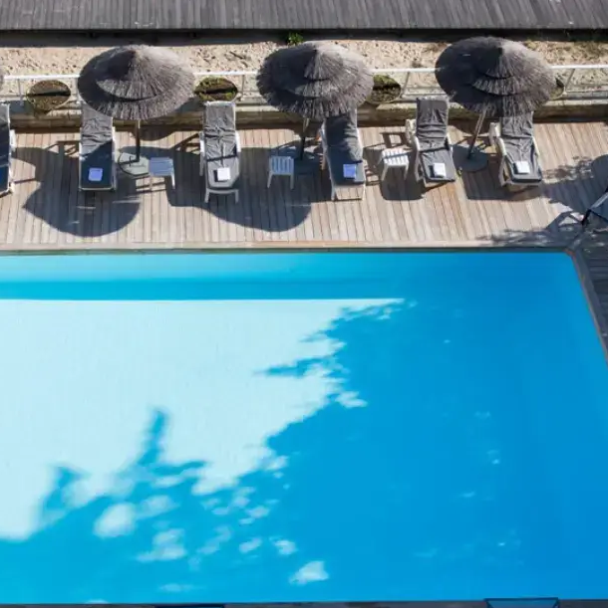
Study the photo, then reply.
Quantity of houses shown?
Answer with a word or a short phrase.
none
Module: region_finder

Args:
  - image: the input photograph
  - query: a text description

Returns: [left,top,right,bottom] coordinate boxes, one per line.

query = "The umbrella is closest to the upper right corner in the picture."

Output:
[439,41,556,172]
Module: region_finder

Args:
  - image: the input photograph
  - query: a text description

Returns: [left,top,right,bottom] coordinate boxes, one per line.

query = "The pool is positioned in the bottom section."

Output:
[0,256,608,607]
